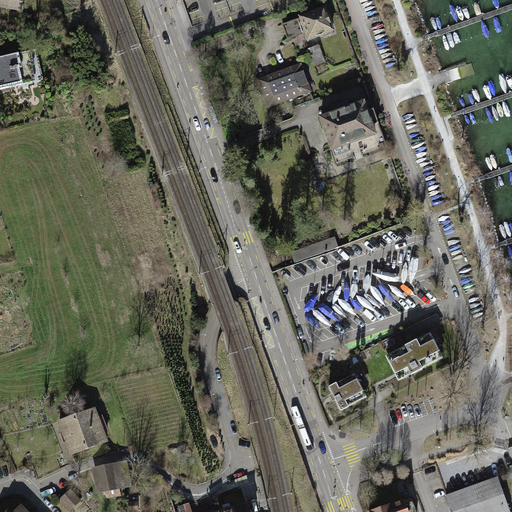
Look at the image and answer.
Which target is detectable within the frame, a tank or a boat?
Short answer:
boat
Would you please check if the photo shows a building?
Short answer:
Yes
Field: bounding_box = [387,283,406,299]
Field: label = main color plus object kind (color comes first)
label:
white boat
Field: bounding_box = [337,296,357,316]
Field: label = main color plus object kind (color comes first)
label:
white boat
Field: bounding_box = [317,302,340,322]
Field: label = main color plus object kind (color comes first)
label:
blue boat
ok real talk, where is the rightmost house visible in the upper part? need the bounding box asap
[318,97,384,164]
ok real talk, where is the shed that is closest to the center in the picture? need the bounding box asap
[292,236,338,262]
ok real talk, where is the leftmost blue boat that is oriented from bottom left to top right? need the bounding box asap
[304,293,320,312]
